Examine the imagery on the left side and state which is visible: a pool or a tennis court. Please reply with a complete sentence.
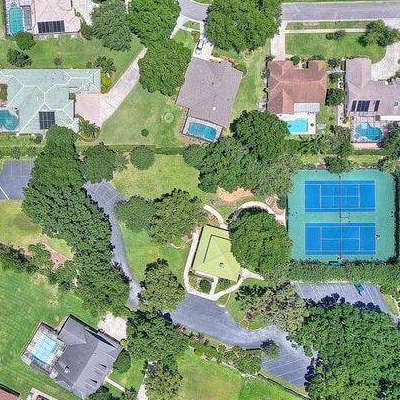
What appears on the left side is a pool.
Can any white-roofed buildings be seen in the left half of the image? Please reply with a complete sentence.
Yes, looking in the left half of the image, one can make out a white-roofed building.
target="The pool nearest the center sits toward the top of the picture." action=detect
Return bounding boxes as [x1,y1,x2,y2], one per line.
[182,116,224,142]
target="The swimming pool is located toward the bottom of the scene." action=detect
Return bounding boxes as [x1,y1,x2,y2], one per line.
[22,323,68,375]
